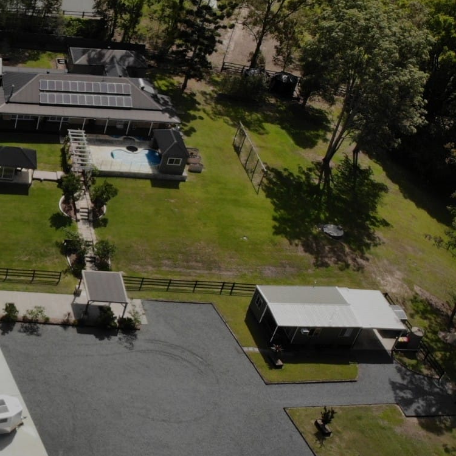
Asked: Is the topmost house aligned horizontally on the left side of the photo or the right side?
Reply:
left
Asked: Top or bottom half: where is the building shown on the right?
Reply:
bottom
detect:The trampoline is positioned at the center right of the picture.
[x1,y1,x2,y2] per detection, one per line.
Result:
[321,223,347,239]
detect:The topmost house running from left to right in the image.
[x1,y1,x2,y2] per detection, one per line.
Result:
[0,47,180,133]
